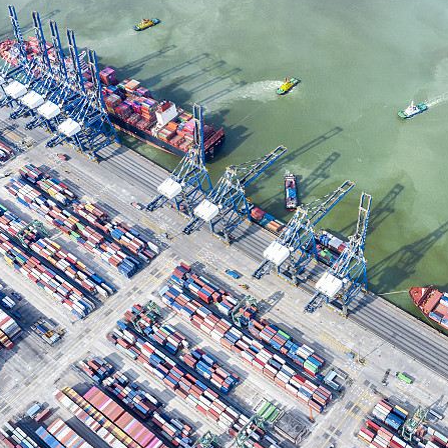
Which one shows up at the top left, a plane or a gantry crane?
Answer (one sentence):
The one visible at the top left is a gantry crane.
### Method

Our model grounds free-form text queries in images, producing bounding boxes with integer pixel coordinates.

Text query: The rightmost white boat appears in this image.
[401,101,428,116]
